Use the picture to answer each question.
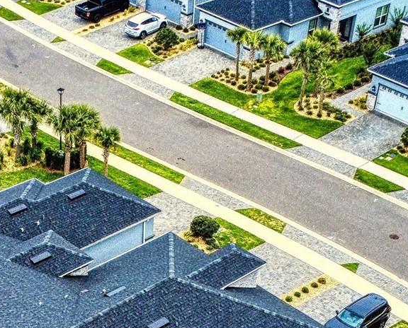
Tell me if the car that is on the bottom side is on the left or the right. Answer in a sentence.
You can find the car that is on the bottom side on the right side of the picture.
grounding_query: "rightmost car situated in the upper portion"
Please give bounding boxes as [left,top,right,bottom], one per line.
[124,10,168,36]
